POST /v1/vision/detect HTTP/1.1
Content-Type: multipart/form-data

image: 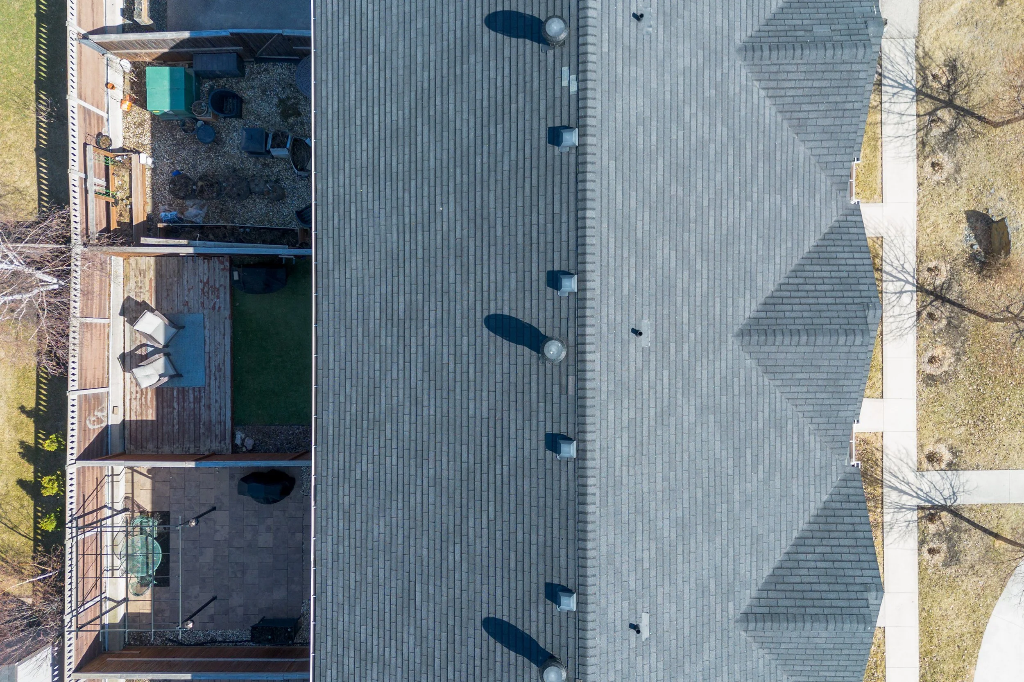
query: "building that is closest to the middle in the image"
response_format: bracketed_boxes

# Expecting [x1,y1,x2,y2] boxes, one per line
[311,0,882,682]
